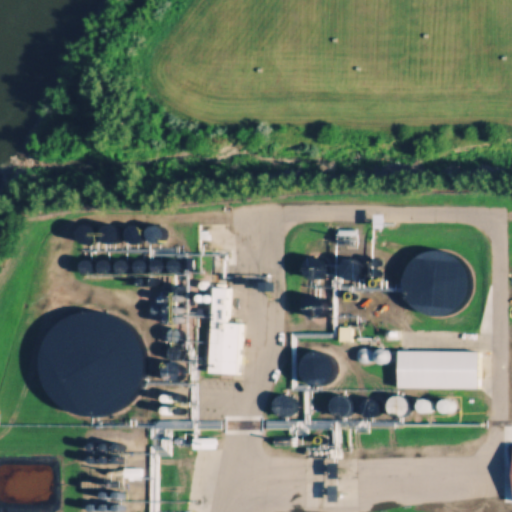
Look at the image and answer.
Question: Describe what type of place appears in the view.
industrial area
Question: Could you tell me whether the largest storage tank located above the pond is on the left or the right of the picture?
left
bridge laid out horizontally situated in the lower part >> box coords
[226,416,263,434]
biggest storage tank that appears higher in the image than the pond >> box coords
[39,308,150,420]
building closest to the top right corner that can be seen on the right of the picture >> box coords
[338,229,360,248]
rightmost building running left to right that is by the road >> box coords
[396,351,481,389]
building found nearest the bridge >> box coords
[208,323,246,374]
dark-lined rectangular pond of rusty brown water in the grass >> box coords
[0,456,62,512]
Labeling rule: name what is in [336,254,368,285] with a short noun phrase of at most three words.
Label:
storage tank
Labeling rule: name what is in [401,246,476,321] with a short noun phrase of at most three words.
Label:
storage tank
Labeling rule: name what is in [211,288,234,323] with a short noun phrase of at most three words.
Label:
building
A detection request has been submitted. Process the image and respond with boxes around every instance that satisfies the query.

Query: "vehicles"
[279,332,284,345]
[360,297,372,309]
[458,334,476,340]
[272,370,280,382]
[234,382,244,392]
